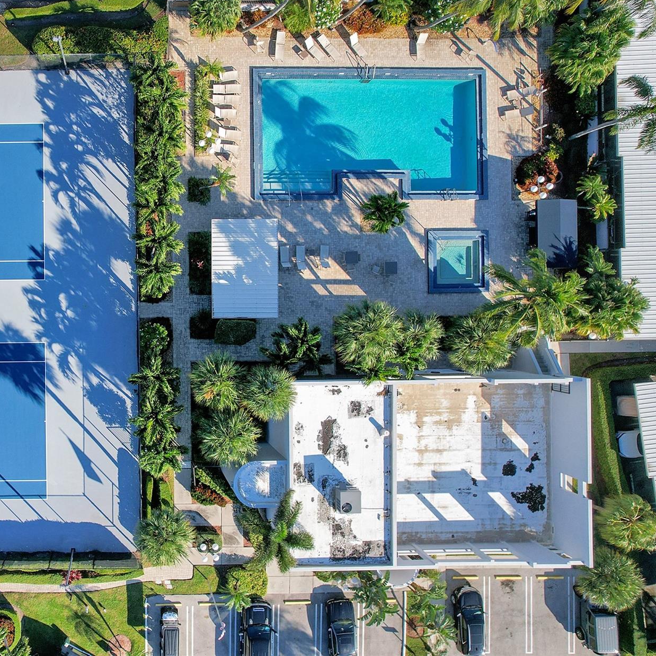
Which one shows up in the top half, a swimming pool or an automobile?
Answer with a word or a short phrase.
swimming pool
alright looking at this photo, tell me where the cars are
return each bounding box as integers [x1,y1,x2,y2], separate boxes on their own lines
[325,599,360,656]
[611,427,643,456]
[243,599,277,656]
[575,580,619,656]
[611,391,638,418]
[153,608,184,656]
[448,584,487,656]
